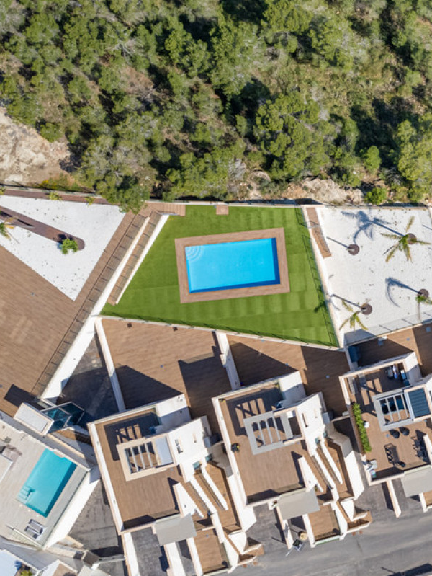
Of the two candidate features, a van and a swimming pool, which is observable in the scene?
swimming pool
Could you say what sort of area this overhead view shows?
residential area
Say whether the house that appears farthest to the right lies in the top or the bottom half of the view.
bottom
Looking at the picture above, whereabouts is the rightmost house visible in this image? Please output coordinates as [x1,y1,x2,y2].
[339,351,432,516]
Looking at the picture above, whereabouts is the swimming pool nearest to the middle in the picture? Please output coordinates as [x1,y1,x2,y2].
[175,227,290,304]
